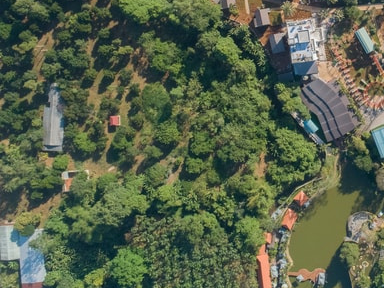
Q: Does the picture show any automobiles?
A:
No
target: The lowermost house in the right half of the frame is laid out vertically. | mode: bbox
[257,252,273,288]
